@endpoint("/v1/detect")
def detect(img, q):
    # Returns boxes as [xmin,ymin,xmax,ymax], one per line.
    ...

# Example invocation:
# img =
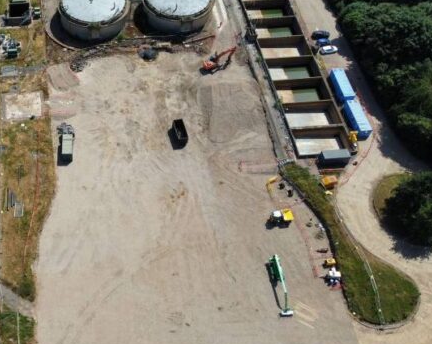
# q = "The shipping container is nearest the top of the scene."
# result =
[328,69,354,106]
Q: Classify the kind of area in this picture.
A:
industrial area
